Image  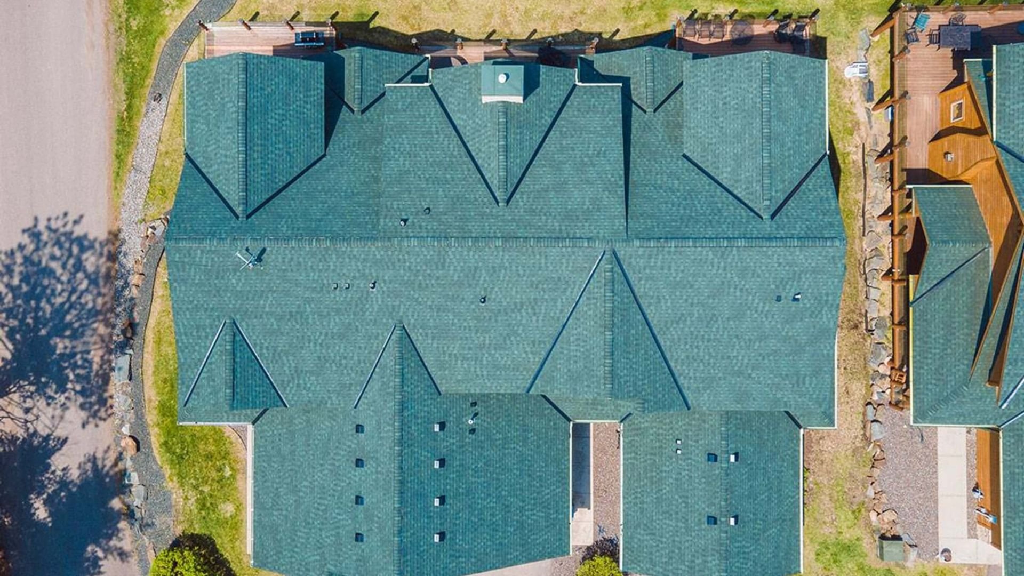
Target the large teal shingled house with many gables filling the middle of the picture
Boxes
[166,47,845,576]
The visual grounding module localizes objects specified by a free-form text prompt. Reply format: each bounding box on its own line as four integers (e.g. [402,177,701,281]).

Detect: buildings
[166,47,845,576]
[890,34,1024,576]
